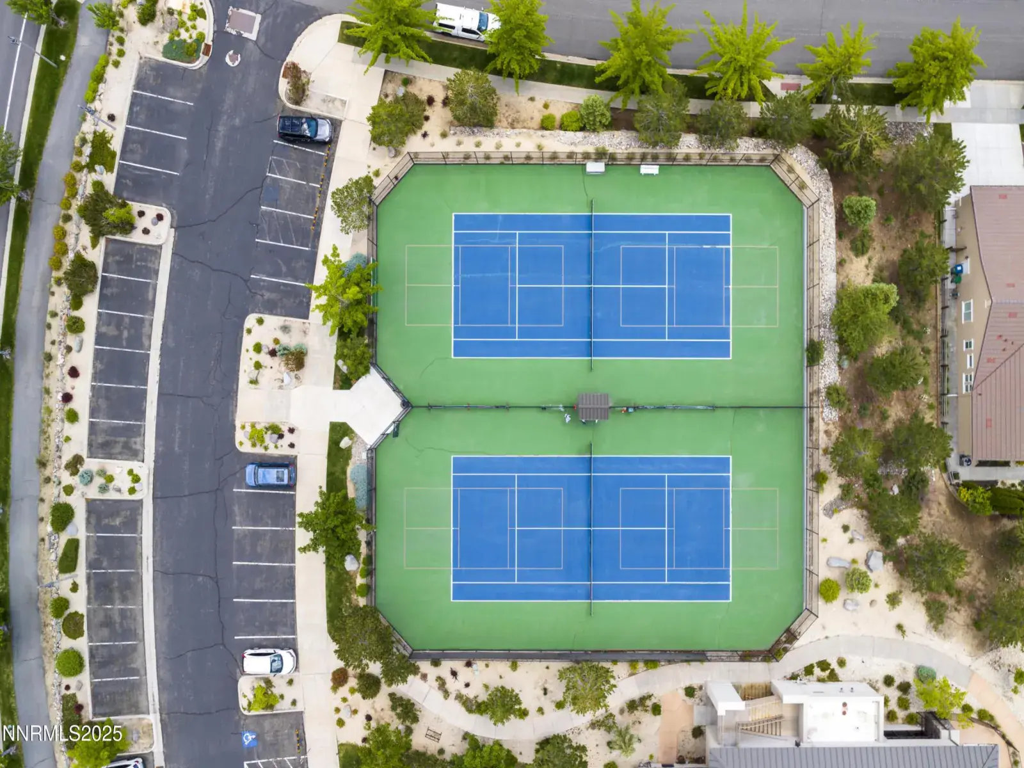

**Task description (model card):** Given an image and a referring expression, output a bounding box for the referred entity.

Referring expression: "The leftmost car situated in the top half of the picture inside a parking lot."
[278,112,335,146]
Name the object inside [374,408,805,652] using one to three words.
tennis court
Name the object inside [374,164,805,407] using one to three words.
tennis court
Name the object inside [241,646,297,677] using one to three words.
car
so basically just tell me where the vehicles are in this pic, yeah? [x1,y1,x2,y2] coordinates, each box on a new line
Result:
[435,1,500,47]
[93,750,150,768]
[278,112,335,146]
[246,460,299,489]
[241,646,297,677]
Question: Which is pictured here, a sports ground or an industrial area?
sports ground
